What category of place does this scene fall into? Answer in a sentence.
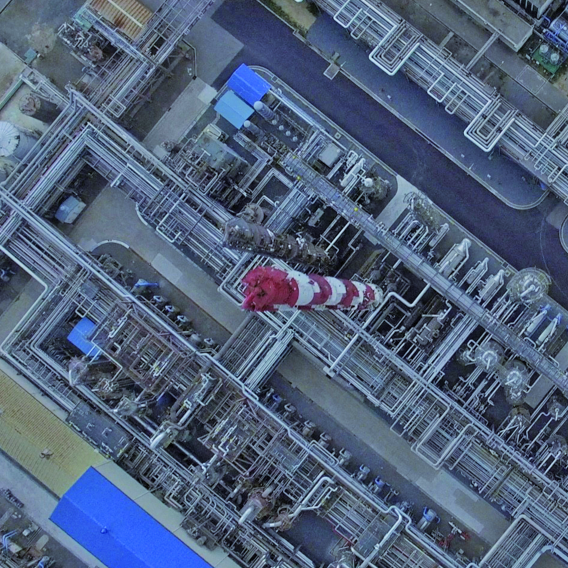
This image shows an industrial area.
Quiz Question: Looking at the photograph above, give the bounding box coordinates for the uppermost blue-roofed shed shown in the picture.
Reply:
[227,62,277,108]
